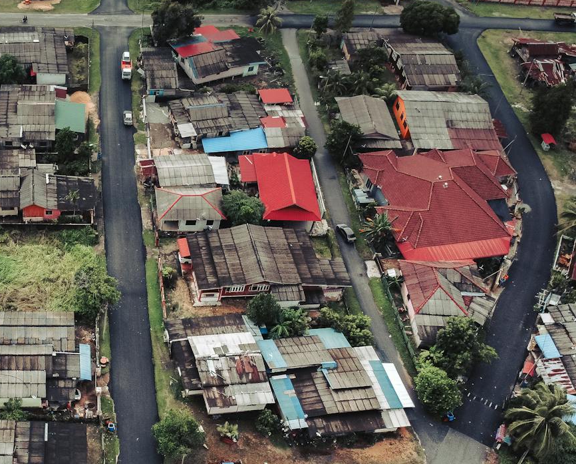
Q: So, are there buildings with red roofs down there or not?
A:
Yes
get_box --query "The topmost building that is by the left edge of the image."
[0,28,69,76]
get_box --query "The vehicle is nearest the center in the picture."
[336,220,358,243]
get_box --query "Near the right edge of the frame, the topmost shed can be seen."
[516,38,576,85]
